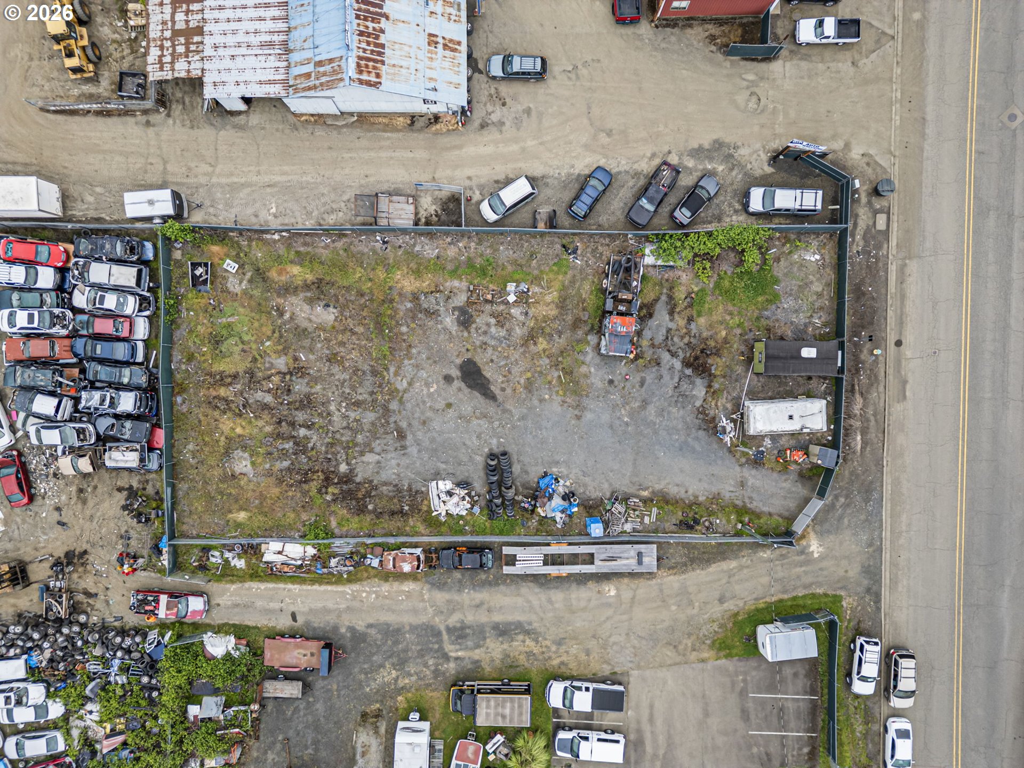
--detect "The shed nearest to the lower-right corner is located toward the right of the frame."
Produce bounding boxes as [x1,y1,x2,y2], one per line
[804,444,840,469]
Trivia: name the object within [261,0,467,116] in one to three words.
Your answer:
shed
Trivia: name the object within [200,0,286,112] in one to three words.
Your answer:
barn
